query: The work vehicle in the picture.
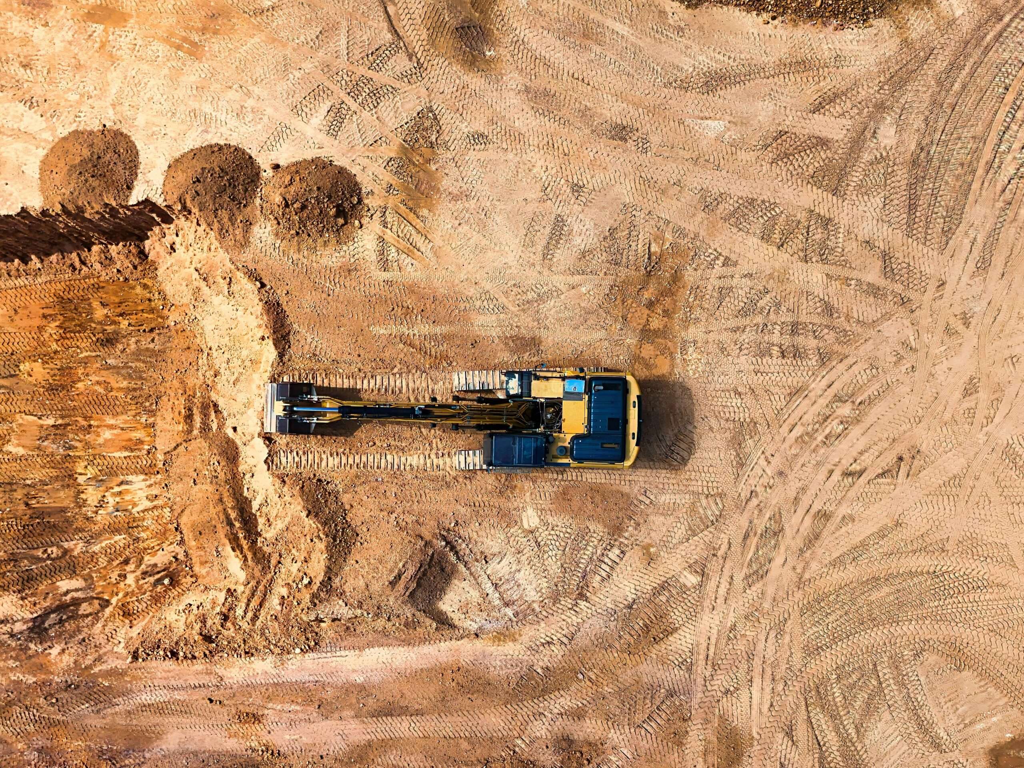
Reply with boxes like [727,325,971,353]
[264,364,644,473]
